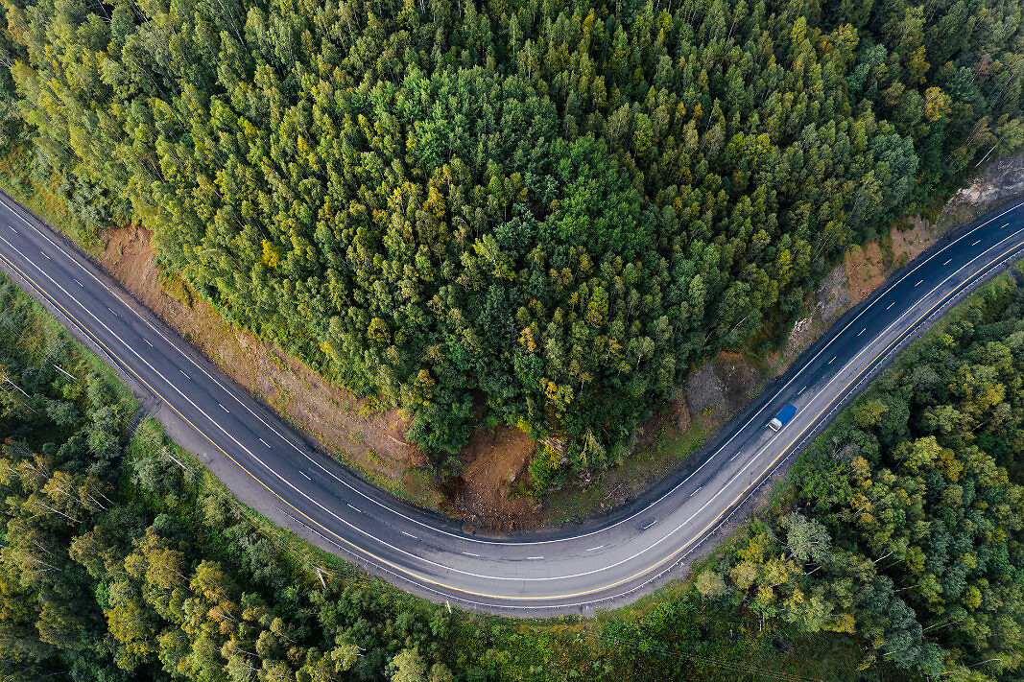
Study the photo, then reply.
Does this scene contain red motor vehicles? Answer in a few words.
No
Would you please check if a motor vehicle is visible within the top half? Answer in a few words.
No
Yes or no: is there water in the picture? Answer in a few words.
No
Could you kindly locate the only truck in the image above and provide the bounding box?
[770,401,797,428]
